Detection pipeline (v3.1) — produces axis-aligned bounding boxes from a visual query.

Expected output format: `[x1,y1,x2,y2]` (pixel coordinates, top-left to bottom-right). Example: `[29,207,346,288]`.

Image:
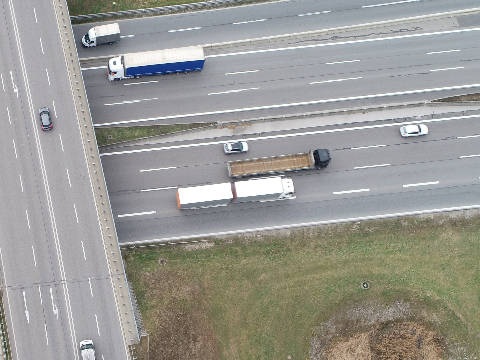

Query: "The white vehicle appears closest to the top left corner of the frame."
[82,24,120,47]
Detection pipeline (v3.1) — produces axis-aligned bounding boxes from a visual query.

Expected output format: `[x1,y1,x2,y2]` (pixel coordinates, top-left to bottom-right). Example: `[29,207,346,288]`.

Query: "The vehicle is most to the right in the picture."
[400,122,429,137]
